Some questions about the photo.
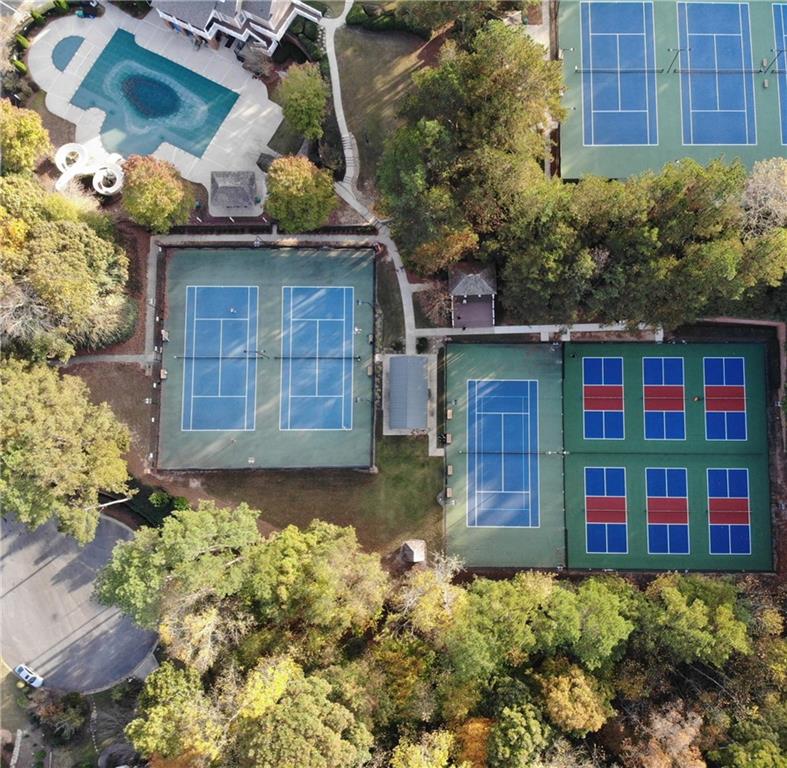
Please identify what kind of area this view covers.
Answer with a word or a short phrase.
sports ground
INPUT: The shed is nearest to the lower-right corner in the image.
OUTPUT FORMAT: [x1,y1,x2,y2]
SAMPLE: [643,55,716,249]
[402,538,425,563]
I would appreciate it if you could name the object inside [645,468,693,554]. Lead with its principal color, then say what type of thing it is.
blue sports court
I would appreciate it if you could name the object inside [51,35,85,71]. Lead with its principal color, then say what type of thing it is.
blue swimming pool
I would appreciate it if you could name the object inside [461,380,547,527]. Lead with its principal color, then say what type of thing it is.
blue tennis court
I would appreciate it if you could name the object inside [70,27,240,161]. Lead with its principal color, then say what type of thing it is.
blue swimming pool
